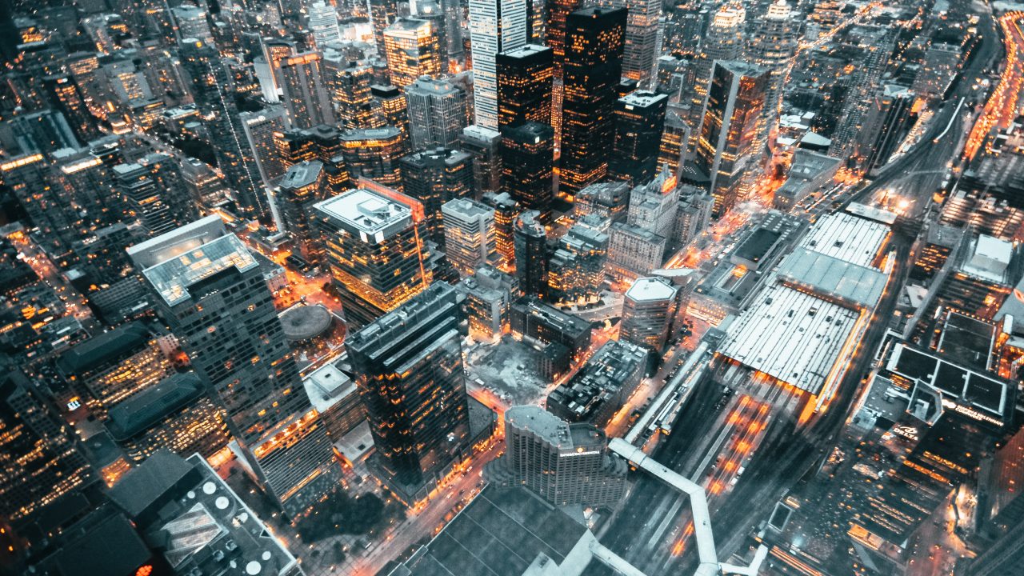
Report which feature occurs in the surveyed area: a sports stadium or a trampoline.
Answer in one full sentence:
It is a sports stadium that can be seen here.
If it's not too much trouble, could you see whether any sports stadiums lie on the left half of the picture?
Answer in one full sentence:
No, I can find no sports stadium on the left half of the picture.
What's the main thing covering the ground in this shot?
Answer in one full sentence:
Most of the picture is covered by buildings.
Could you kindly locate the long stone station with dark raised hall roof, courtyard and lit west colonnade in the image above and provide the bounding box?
[690,202,807,332]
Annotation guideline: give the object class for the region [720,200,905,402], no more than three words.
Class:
shed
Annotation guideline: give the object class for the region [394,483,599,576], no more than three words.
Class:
building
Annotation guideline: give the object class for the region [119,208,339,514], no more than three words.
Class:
building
